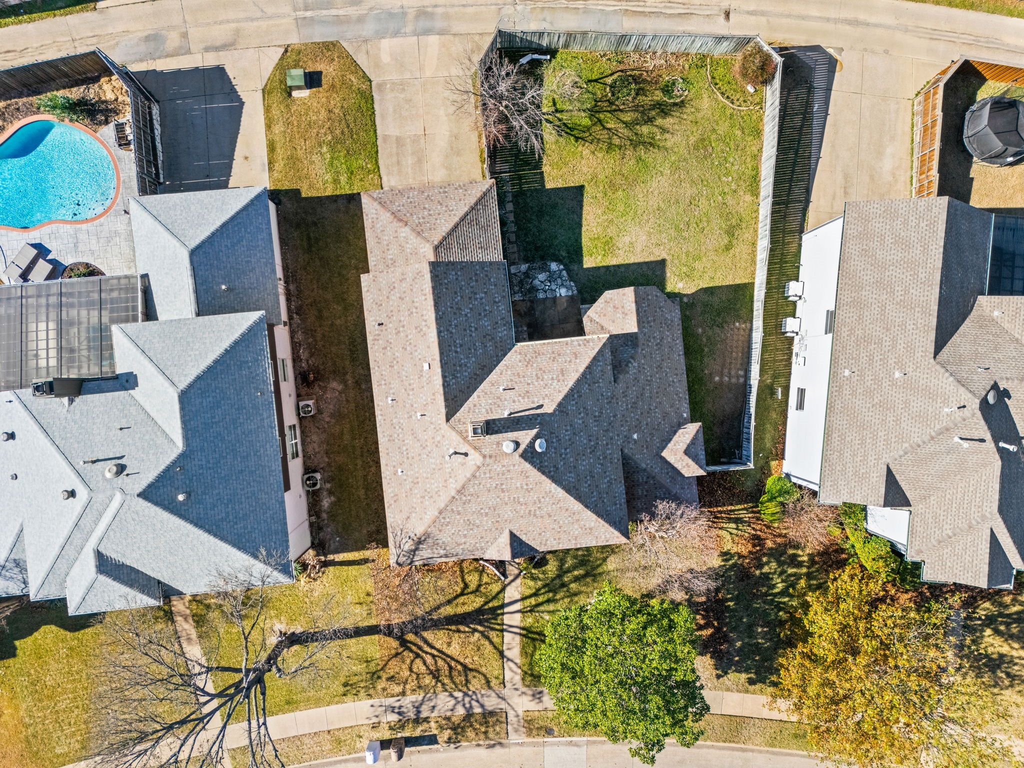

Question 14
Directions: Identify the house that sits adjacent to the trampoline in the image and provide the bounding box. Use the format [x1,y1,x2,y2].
[781,196,1024,589]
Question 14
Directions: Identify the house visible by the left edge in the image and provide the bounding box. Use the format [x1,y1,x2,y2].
[0,185,311,617]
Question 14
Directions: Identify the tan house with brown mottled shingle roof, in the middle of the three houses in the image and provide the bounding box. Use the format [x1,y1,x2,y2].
[360,179,708,568]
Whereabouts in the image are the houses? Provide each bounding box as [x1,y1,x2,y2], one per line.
[0,185,311,617]
[781,196,1024,589]
[360,179,708,568]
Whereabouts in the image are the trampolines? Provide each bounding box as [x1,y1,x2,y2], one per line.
[949,86,1024,173]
